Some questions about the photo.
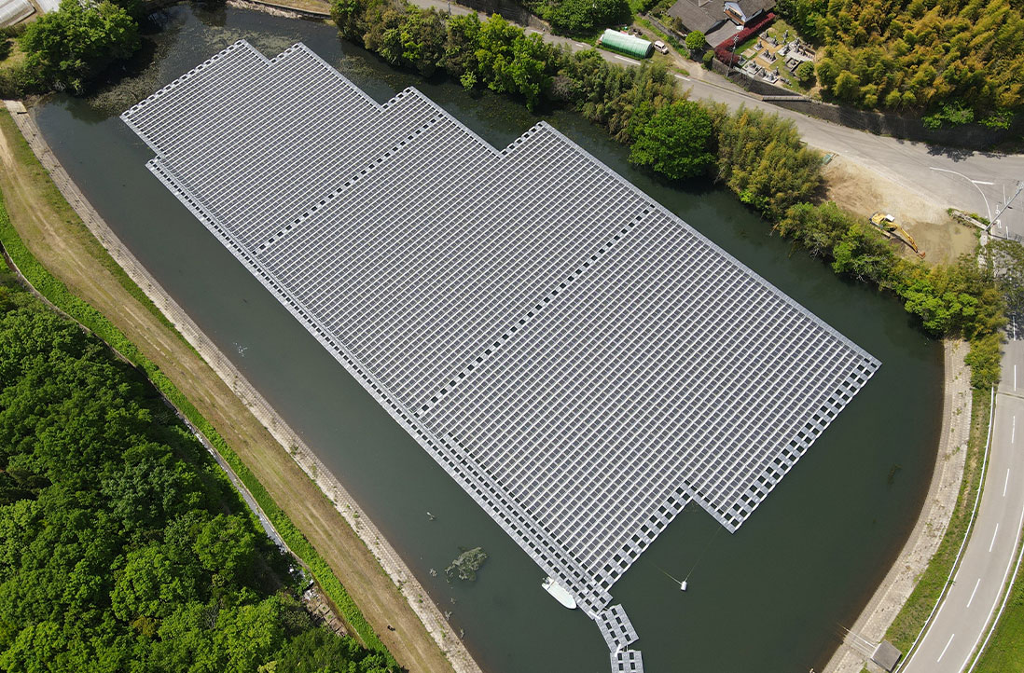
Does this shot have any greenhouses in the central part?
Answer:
No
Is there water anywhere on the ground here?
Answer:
Yes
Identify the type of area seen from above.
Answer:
solar farm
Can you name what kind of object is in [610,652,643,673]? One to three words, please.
pier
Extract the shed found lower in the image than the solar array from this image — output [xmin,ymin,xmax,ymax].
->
[865,639,902,672]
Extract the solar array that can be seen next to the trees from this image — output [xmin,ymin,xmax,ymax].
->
[119,38,883,621]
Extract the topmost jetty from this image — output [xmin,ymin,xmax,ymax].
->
[595,604,637,652]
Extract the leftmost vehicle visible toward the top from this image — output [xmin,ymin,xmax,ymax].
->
[652,39,669,55]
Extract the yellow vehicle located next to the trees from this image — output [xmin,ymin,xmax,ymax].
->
[869,212,931,258]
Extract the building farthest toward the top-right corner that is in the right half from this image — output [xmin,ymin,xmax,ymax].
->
[667,0,776,52]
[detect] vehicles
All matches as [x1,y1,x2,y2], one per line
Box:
[869,212,931,258]
[652,39,669,55]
